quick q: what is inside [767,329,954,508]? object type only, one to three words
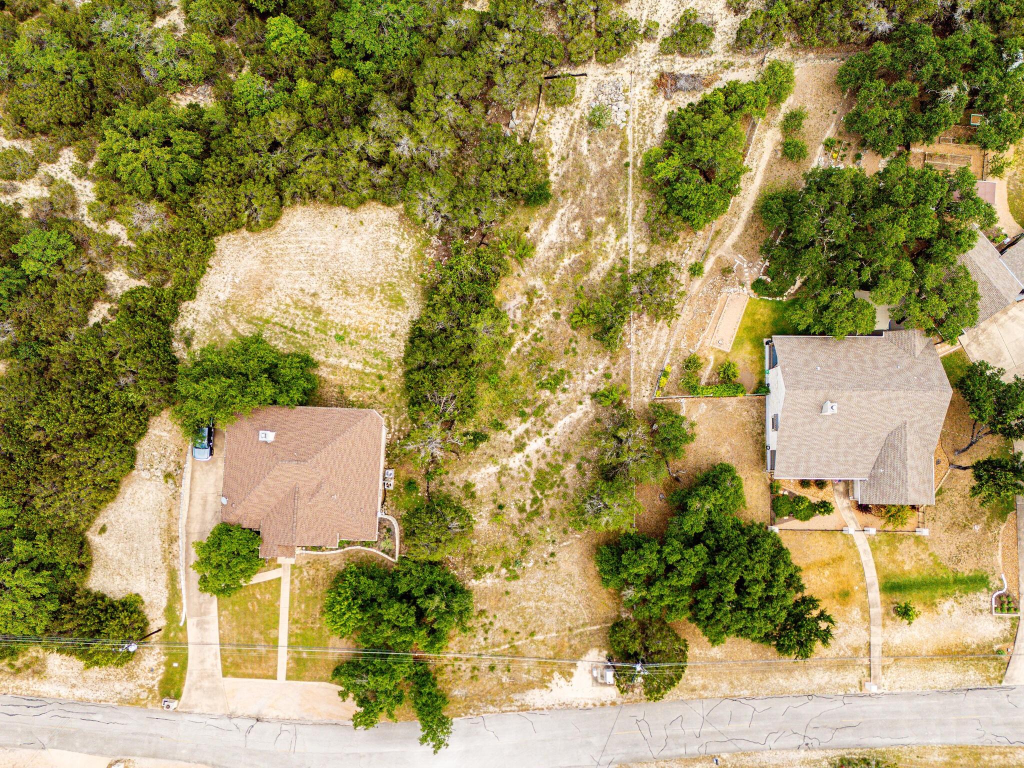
house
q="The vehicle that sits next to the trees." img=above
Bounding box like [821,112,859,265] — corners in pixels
[191,429,216,461]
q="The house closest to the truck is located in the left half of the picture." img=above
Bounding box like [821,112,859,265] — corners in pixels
[220,405,386,558]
